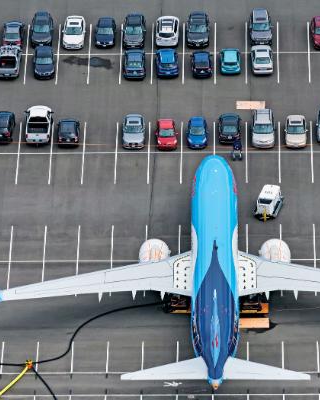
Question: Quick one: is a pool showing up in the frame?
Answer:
No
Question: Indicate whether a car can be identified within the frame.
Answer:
Yes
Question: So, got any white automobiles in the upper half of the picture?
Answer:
Yes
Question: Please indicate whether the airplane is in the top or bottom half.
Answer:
bottom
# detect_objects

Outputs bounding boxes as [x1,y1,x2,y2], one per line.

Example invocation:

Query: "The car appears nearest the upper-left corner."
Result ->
[2,16,27,45]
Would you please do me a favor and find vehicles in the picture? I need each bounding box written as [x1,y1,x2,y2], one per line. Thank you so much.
[250,107,278,148]
[185,114,210,149]
[154,15,180,46]
[185,12,211,47]
[30,9,55,46]
[121,47,148,78]
[56,117,82,148]
[216,110,243,146]
[121,113,148,149]
[219,47,243,74]
[32,45,57,79]
[248,8,274,45]
[0,42,23,77]
[61,15,87,49]
[283,112,309,148]
[26,105,54,145]
[249,43,274,74]
[0,111,16,144]
[190,50,215,77]
[155,47,180,76]
[154,116,180,151]
[93,15,118,47]
[122,11,147,47]
[310,15,320,49]
[2,16,27,45]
